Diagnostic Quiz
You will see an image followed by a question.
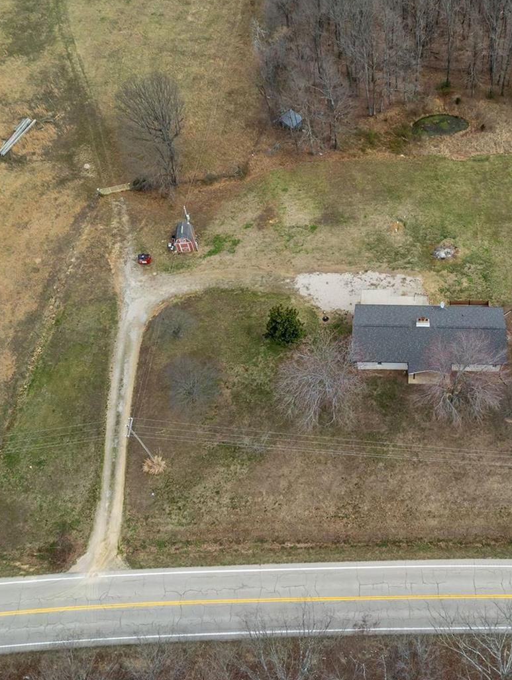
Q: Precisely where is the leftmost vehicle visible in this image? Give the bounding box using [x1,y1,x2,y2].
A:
[137,250,151,264]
